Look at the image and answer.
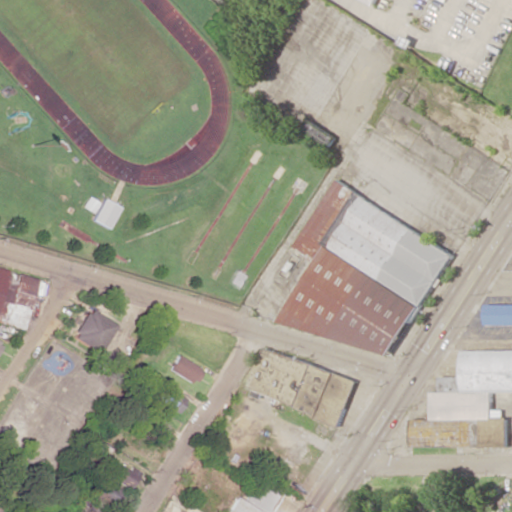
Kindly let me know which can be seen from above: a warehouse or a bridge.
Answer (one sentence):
I can see a warehouse in this picture.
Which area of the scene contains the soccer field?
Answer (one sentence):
Look in the top left portion of the view to spot the soccer field.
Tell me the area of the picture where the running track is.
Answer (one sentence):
Look in the top left portion of the view to spot the running track.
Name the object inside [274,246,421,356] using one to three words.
building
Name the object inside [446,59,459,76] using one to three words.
vehicle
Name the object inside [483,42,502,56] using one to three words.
vehicle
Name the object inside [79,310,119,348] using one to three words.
house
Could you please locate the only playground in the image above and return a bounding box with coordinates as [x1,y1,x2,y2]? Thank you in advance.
[42,352,75,376]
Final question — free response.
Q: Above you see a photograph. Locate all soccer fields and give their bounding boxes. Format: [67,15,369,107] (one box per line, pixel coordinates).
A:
[0,0,210,164]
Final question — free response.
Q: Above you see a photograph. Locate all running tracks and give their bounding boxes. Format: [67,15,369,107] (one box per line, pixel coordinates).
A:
[0,0,231,187]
